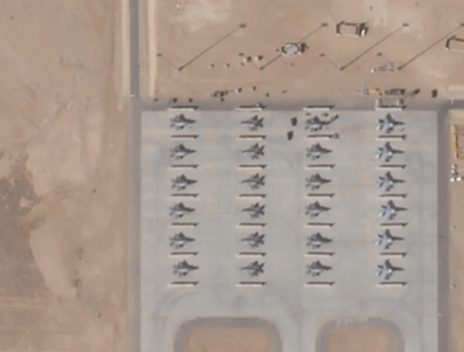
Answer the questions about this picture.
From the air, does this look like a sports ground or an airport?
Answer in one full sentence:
This looks like an airport.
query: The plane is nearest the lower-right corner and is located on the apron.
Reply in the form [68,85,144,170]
[375,261,400,278]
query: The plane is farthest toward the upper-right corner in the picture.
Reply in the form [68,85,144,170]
[376,115,400,133]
